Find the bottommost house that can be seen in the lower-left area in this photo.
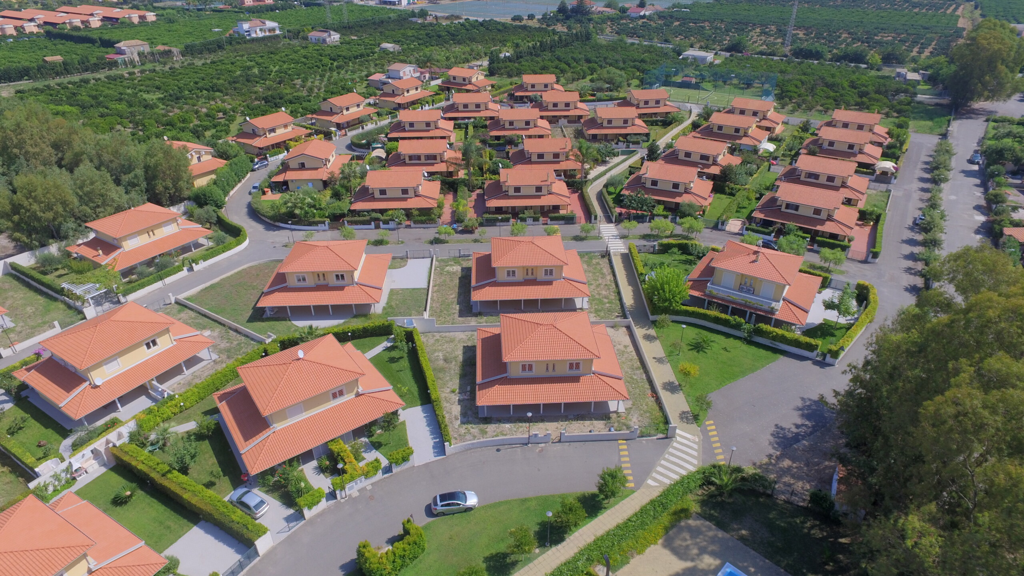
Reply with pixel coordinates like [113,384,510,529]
[0,484,173,576]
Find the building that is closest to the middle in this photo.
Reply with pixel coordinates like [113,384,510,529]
[471,228,591,314]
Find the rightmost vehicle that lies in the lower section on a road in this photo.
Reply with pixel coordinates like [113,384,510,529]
[430,488,472,513]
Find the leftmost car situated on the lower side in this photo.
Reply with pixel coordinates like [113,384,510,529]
[228,487,266,518]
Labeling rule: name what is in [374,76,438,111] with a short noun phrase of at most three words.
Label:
house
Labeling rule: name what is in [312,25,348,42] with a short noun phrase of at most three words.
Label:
house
